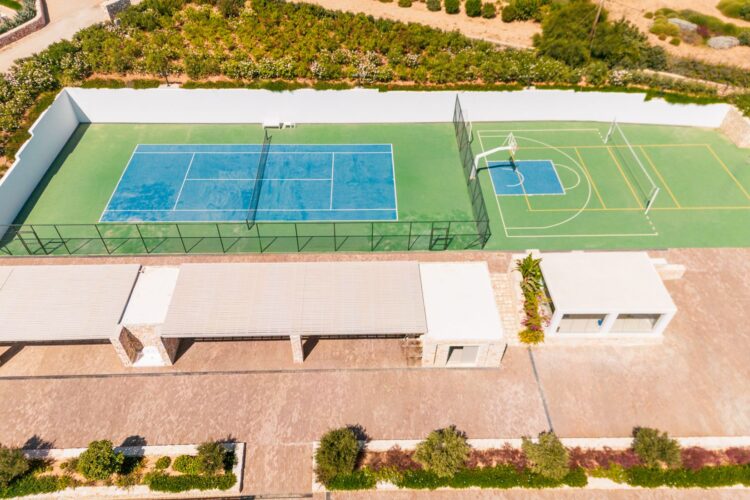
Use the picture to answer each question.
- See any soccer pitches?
No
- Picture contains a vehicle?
No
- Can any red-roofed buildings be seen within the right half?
No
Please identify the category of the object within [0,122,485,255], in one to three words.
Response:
tennis court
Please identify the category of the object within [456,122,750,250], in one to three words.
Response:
basketball court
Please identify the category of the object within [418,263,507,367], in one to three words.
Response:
building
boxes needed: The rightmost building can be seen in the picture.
[532,252,677,338]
